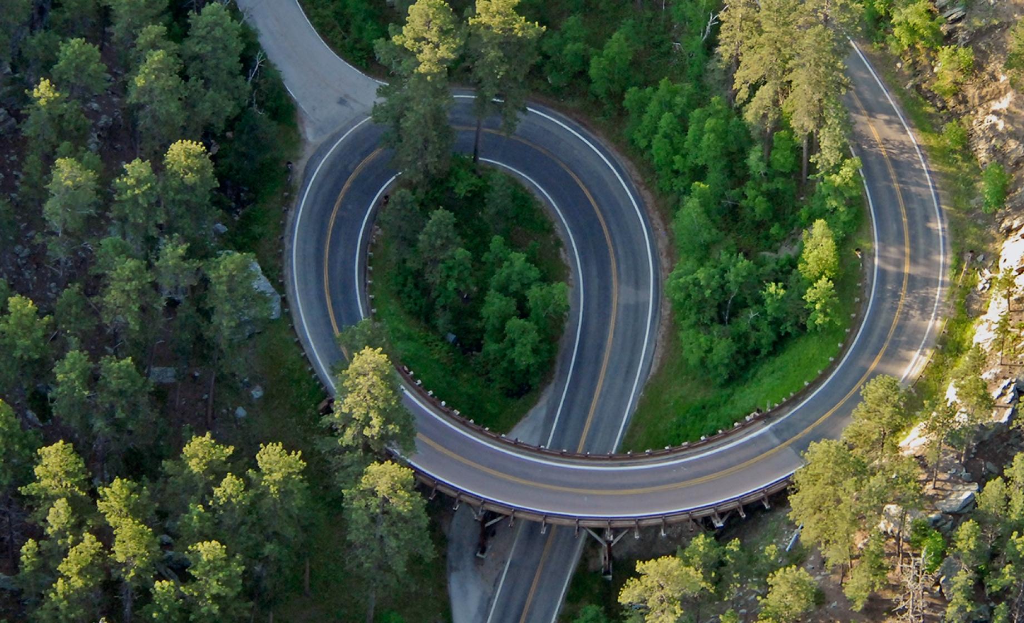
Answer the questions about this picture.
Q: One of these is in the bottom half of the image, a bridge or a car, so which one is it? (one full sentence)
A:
There is a bridge in the bottom half of the image.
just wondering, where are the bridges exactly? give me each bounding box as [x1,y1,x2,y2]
[371,384,812,575]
